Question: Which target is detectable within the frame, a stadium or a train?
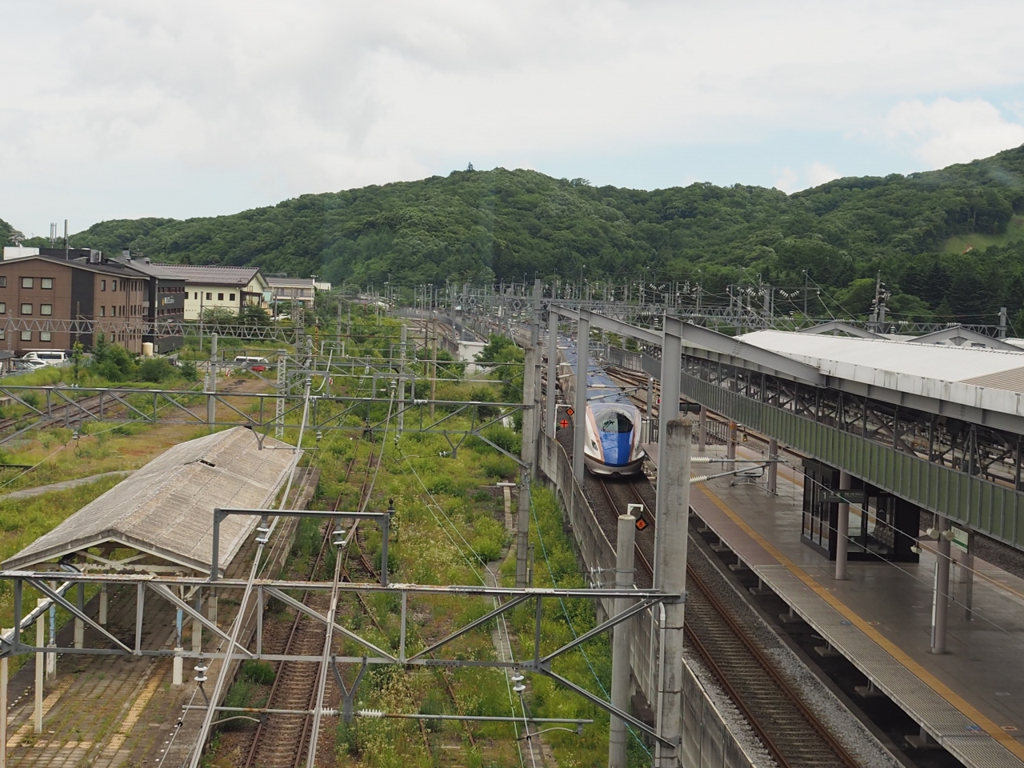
train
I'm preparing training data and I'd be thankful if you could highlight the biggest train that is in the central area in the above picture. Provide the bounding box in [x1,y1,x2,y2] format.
[534,332,642,482]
